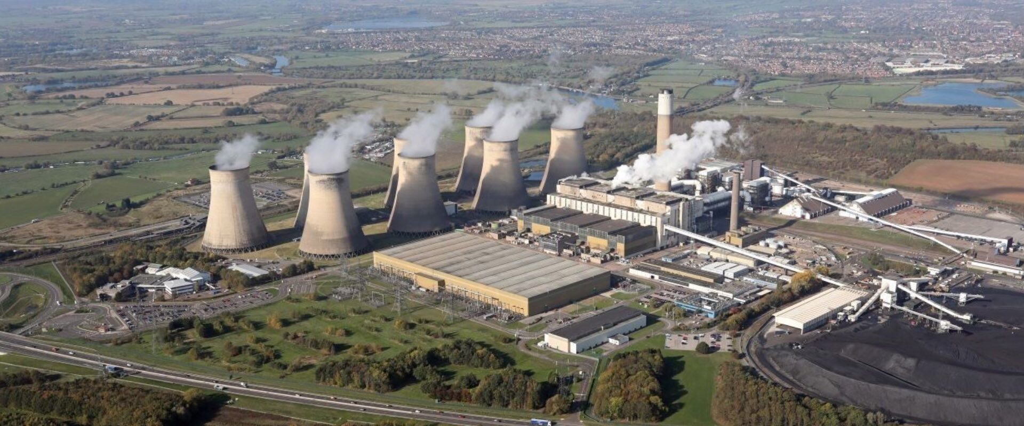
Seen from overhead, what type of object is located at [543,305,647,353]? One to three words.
shed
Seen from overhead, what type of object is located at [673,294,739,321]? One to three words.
building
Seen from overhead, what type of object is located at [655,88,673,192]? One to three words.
chimney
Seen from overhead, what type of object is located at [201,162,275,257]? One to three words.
cooling tower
